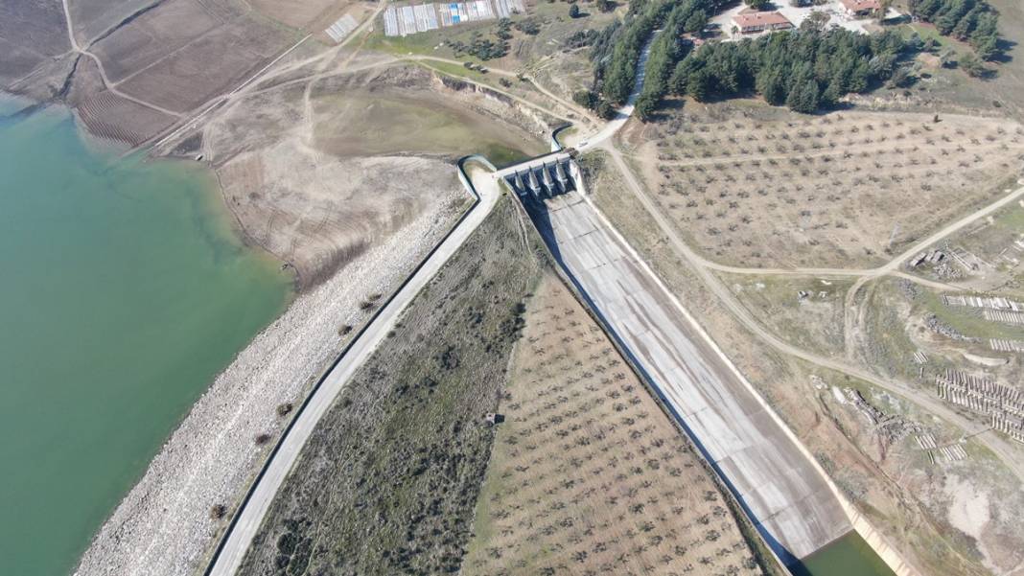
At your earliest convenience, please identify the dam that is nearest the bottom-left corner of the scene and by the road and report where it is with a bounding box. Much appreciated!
[78,155,564,576]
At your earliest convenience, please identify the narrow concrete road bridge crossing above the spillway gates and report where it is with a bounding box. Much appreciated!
[497,148,572,179]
